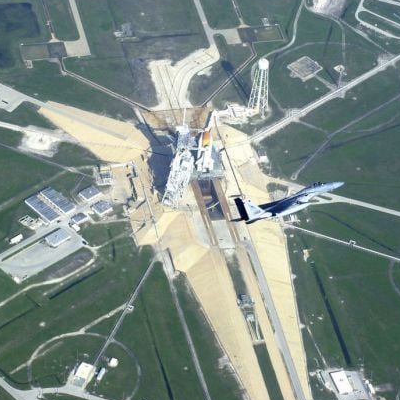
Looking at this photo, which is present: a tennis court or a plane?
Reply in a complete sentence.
It is a plane that can be seen here.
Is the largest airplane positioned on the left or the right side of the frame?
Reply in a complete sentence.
The largest airplane appears in the right half of the scene.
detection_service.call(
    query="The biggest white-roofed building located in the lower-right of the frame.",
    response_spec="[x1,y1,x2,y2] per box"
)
[331,370,354,396]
